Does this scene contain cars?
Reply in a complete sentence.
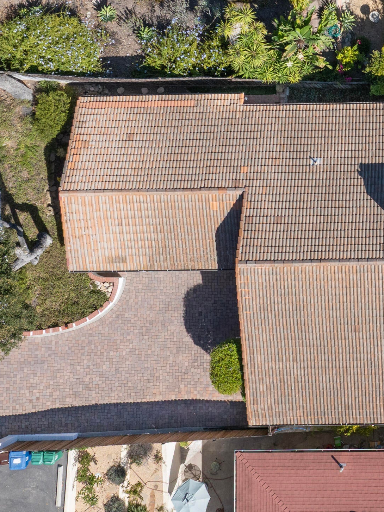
No, the photo shows no car.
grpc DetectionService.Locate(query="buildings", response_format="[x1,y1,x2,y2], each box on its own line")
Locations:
[56,91,384,430]
[232,447,384,512]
